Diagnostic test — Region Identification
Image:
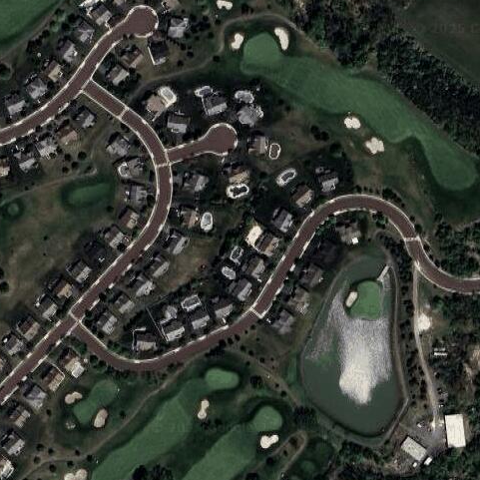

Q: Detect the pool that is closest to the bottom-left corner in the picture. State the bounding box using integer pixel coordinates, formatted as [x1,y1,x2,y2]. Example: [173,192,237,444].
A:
[163,305,177,320]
